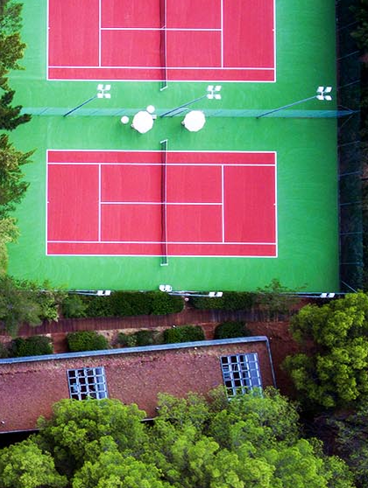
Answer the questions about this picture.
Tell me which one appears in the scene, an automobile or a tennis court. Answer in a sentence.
Looking from above, you can make out a tennis court.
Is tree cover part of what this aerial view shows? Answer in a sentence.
Yes, there's tree cover in this view.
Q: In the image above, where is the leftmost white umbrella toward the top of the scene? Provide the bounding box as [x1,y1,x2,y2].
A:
[129,111,153,133]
